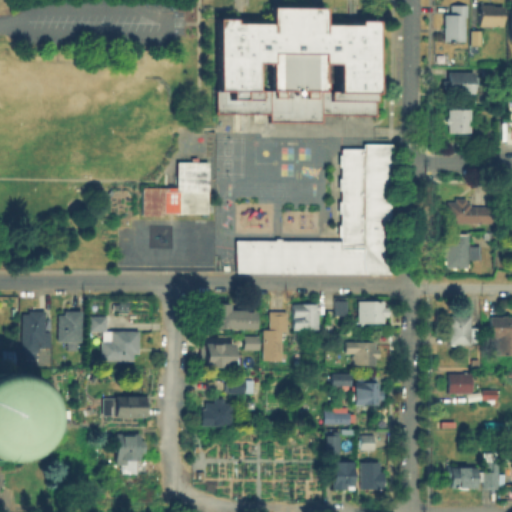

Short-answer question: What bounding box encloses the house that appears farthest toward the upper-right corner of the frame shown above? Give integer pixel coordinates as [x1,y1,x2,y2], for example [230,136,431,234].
[482,3,509,27]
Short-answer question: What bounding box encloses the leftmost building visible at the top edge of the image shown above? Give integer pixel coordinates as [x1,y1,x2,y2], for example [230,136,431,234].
[218,8,384,122]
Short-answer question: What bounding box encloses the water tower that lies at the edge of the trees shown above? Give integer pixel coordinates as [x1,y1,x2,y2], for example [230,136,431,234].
[0,377,66,464]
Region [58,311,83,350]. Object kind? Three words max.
house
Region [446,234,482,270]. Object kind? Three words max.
house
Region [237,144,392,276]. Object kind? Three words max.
building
